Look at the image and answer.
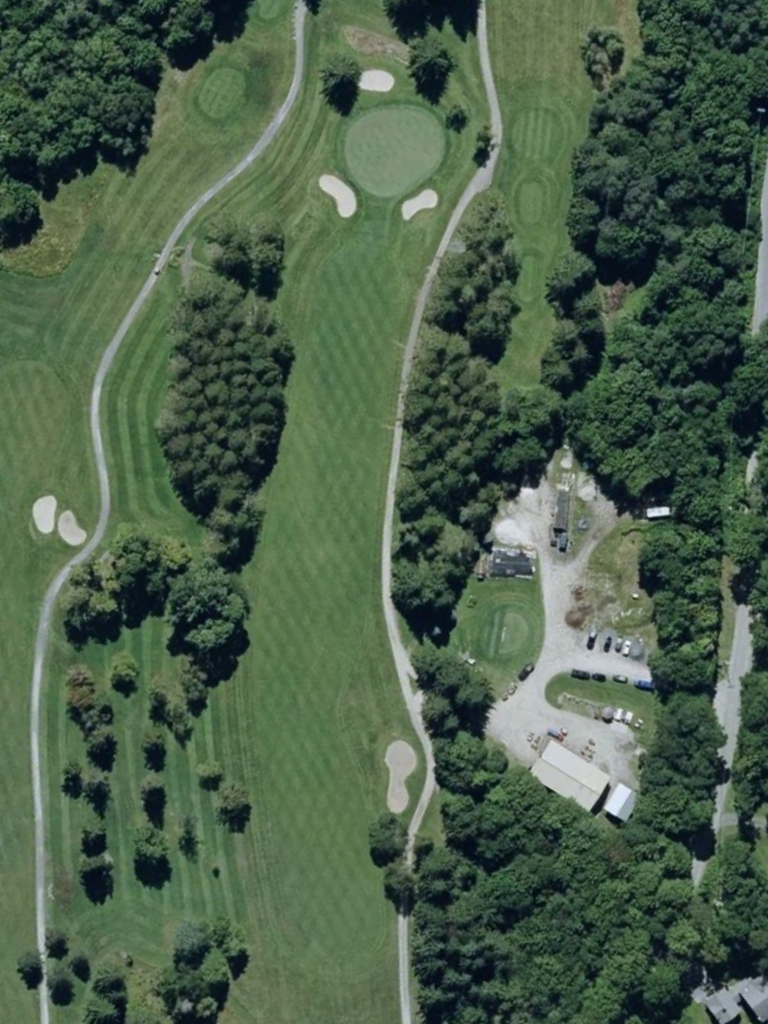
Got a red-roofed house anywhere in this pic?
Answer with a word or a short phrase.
No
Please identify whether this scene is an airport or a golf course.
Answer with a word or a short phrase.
golf course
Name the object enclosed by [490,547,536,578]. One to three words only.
building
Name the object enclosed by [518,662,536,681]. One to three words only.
vehicle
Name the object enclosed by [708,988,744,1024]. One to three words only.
house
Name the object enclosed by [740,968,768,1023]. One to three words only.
house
